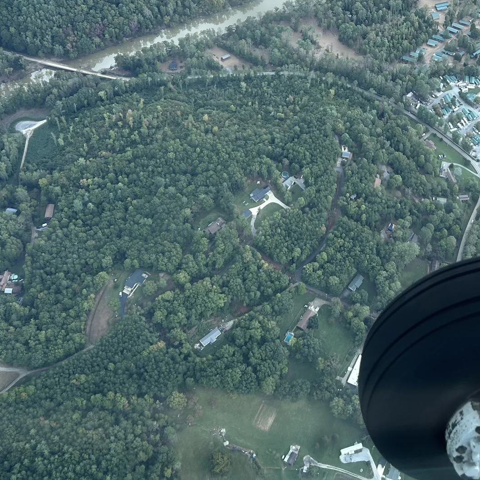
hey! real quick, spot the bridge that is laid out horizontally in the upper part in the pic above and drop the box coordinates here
[41,58,136,83]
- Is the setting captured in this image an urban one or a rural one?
rural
